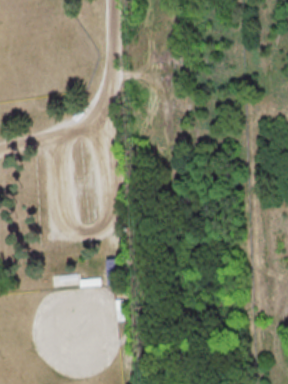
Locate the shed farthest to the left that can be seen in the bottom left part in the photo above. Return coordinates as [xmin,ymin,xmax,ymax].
[52,274,80,288]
